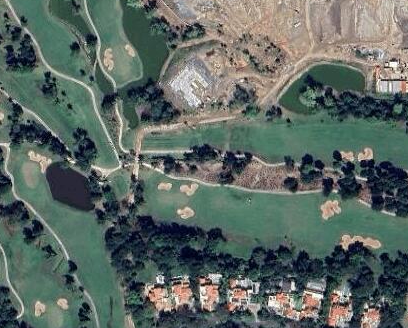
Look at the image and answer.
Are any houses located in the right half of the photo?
Yes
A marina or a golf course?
golf course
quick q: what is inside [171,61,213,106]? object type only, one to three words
building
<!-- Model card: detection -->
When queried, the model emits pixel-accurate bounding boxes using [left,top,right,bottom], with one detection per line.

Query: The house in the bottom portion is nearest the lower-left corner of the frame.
[145,273,175,311]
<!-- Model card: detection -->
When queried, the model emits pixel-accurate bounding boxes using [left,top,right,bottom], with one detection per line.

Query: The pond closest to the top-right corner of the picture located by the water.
[277,62,367,115]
